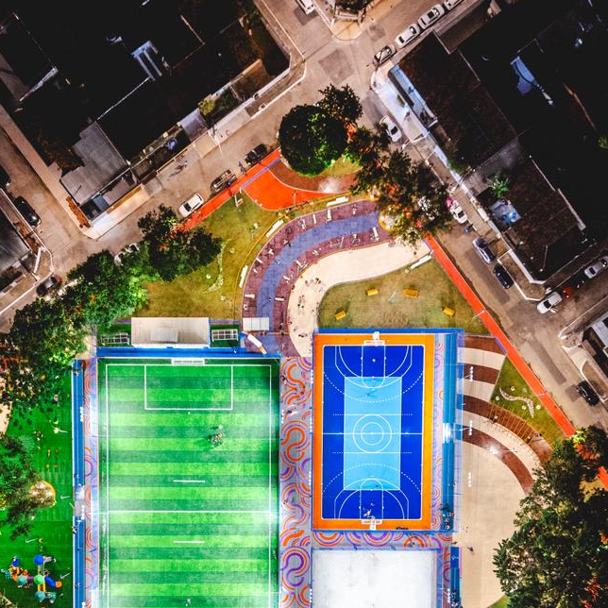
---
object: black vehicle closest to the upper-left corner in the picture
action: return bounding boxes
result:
[13,195,38,223]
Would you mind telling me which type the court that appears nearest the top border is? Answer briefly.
basketball court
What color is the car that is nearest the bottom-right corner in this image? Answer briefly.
black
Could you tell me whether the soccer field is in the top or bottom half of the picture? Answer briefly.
bottom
